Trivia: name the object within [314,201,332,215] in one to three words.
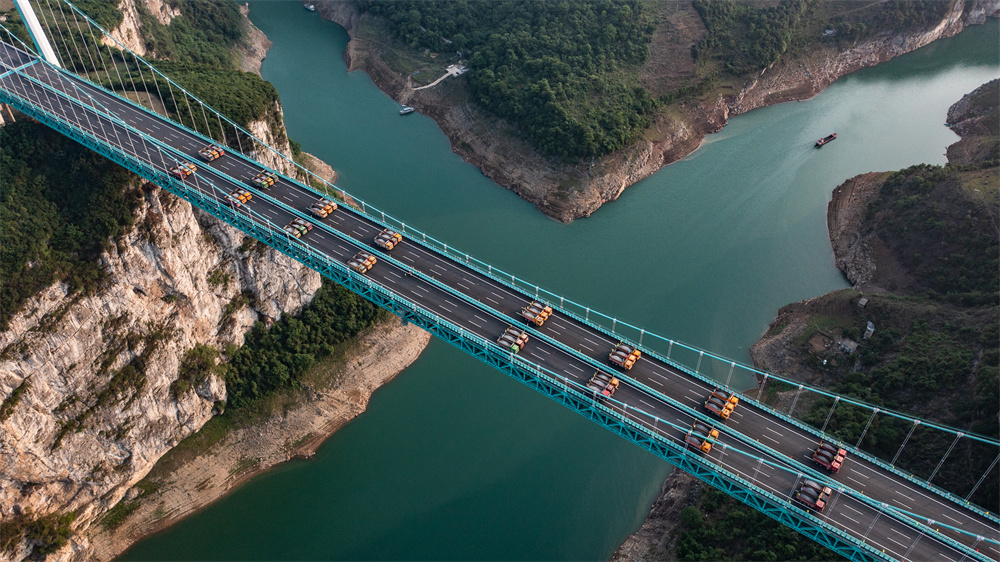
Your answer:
vehicle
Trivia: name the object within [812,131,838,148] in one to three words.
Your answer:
ship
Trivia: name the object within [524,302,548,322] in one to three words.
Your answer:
vehicle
